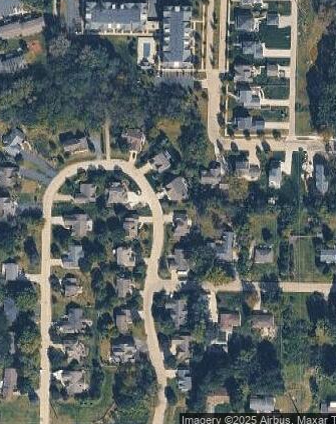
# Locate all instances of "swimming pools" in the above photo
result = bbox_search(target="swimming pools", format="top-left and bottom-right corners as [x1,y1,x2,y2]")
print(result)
[138,36,155,64]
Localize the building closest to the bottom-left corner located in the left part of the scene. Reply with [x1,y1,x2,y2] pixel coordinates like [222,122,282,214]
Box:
[2,367,19,400]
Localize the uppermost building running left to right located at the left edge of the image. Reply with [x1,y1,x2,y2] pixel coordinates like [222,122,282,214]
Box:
[0,16,47,39]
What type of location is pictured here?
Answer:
residential area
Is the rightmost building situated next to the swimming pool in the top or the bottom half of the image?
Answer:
top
